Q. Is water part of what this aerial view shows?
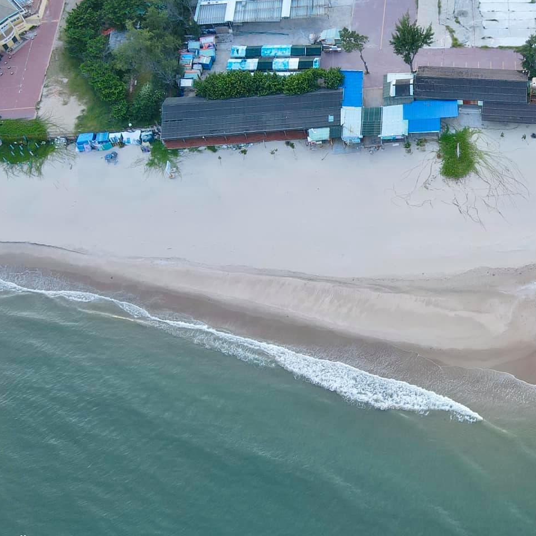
Yes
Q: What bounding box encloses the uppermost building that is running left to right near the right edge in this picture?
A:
[414,69,528,109]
